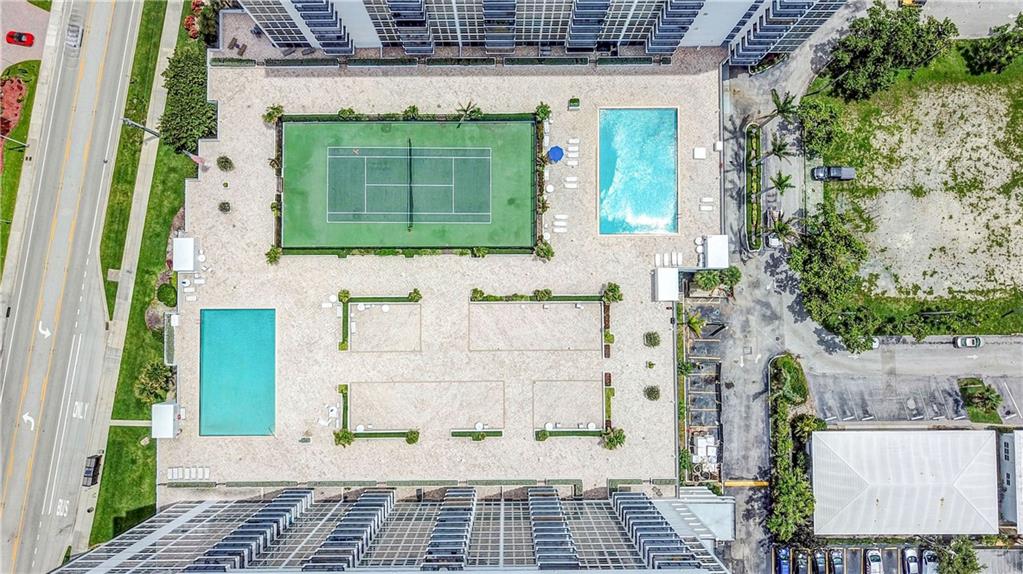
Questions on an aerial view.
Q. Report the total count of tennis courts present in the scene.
1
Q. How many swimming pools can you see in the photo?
2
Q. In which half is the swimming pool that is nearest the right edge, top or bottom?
top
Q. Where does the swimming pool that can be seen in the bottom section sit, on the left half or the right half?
left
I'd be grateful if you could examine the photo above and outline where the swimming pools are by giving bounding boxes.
[596,106,681,236]
[198,306,278,438]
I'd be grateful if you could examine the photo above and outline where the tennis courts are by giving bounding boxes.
[276,116,536,249]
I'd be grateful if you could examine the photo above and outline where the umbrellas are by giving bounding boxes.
[548,143,564,159]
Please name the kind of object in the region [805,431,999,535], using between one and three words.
building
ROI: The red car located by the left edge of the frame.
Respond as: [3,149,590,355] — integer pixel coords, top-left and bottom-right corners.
[7,32,37,48]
